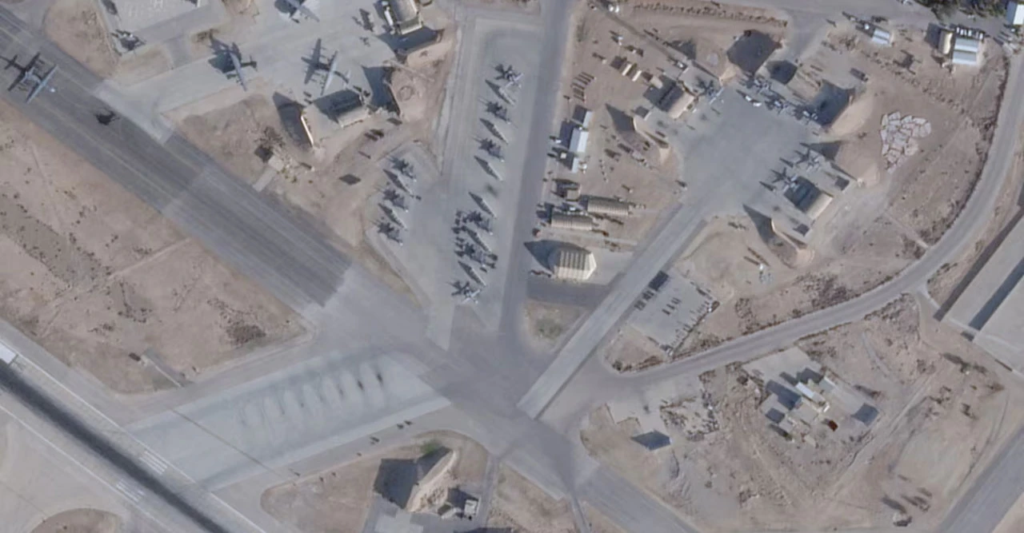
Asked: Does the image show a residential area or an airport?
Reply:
airport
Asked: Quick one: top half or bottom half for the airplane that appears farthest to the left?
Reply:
top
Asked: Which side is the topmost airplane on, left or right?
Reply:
left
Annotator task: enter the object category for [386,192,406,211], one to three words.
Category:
airplane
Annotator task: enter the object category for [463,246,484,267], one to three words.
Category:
airplane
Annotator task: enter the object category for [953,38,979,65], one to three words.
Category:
building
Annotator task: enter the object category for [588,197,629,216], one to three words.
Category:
tent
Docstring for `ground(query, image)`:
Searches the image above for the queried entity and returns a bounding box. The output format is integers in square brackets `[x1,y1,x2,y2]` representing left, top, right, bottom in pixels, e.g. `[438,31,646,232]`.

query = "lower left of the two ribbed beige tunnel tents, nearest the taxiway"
[551,211,592,230]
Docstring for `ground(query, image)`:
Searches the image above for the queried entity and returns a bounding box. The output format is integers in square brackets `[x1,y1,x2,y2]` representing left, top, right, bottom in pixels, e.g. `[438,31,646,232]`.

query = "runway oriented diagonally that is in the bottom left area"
[0,338,265,533]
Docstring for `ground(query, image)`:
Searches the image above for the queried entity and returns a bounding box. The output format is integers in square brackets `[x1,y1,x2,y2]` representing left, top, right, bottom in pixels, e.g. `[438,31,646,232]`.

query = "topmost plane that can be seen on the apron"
[285,0,319,22]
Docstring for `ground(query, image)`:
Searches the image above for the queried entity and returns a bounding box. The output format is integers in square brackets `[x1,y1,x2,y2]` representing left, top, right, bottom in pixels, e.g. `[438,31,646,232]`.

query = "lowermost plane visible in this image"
[463,287,481,305]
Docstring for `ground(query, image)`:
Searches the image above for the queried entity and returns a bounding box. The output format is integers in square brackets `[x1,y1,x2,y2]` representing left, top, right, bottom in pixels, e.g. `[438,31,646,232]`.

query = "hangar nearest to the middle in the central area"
[549,246,596,284]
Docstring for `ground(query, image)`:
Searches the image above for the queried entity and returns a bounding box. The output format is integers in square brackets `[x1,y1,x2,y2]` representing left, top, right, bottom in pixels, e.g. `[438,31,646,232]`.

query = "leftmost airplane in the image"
[19,63,58,103]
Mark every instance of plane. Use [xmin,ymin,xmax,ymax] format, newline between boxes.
[804,110,822,128]
[386,192,406,211]
[482,141,502,160]
[463,287,481,305]
[782,174,801,192]
[707,86,725,104]
[381,225,401,244]
[317,49,352,96]
[19,63,58,103]
[225,48,260,94]
[285,0,319,22]
[504,70,522,88]
[489,103,509,123]
[394,161,414,180]
[463,246,484,267]
[472,213,491,233]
